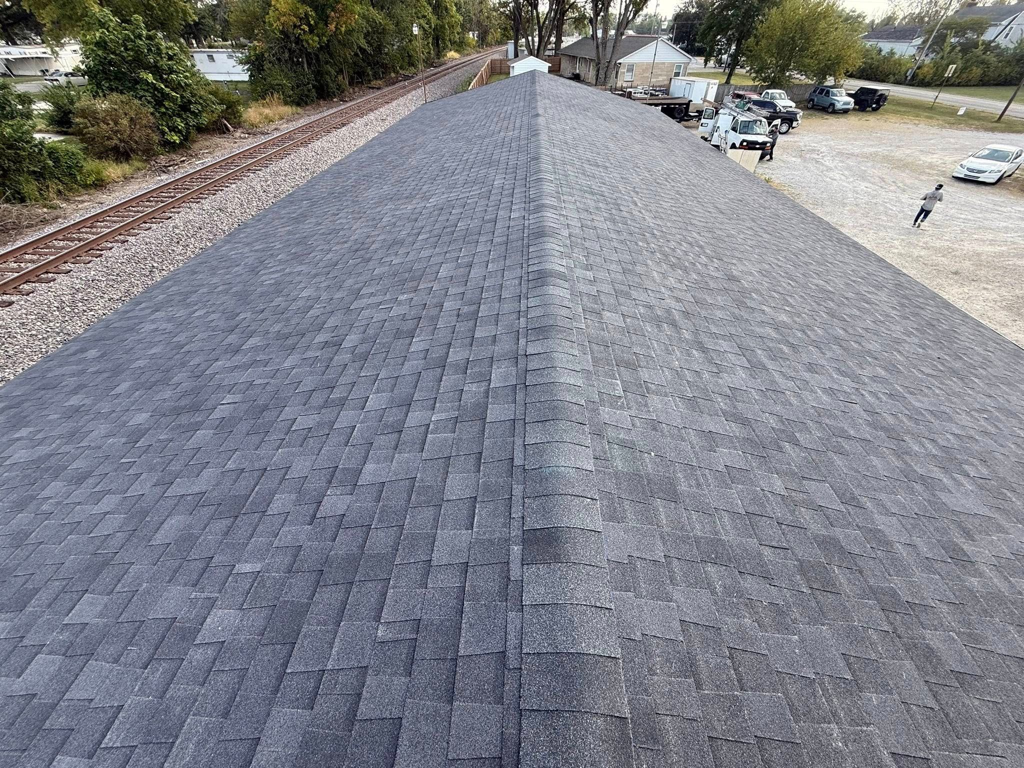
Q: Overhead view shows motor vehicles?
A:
Yes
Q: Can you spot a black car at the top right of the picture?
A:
Yes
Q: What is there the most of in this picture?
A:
buildings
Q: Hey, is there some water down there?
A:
No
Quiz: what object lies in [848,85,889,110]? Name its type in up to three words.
car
